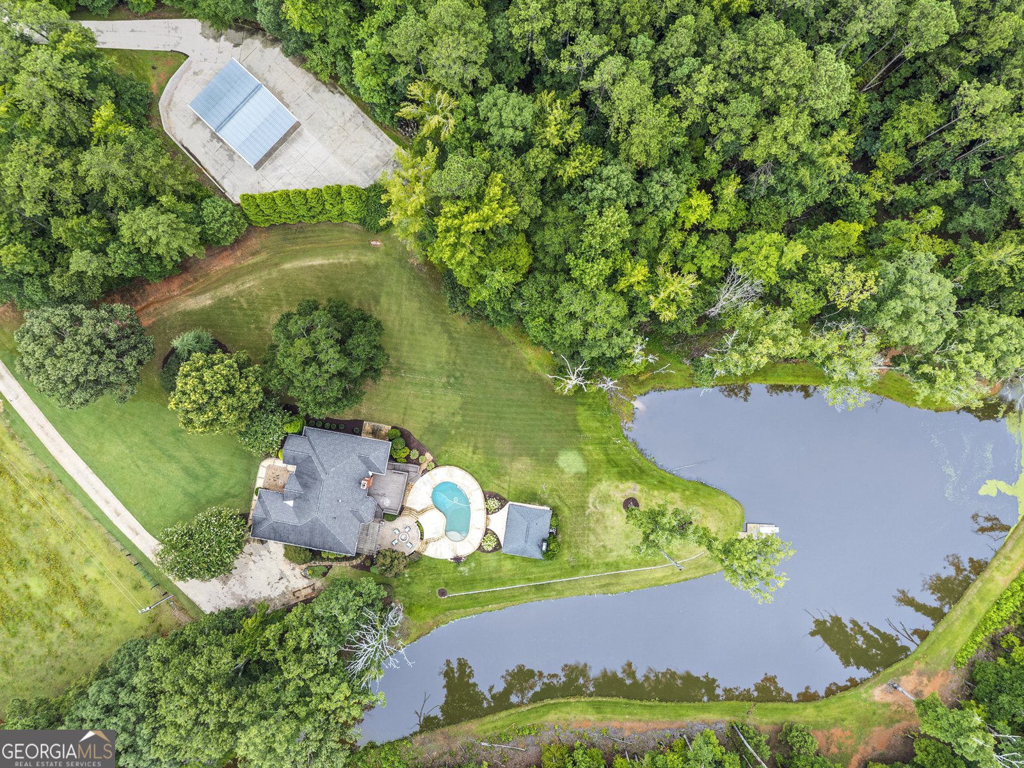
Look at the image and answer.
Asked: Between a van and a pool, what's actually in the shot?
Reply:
pool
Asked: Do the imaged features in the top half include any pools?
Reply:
No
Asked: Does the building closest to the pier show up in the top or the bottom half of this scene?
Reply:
bottom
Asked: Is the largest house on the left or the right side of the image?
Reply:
left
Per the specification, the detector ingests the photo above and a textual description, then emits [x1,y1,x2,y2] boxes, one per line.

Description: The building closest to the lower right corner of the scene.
[502,503,552,560]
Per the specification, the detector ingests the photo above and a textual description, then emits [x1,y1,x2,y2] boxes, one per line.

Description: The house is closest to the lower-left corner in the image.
[250,427,393,556]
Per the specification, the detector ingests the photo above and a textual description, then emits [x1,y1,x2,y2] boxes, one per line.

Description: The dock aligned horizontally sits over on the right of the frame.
[737,523,779,540]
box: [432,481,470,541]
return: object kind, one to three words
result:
swimming pool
